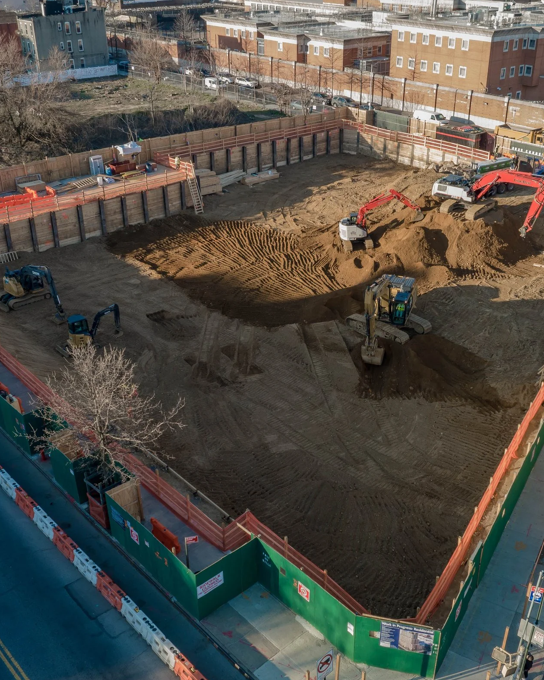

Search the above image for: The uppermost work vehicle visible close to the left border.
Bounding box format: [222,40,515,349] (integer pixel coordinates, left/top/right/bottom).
[0,263,67,325]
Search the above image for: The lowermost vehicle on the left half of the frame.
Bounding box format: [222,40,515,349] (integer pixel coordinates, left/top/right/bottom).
[48,305,125,362]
